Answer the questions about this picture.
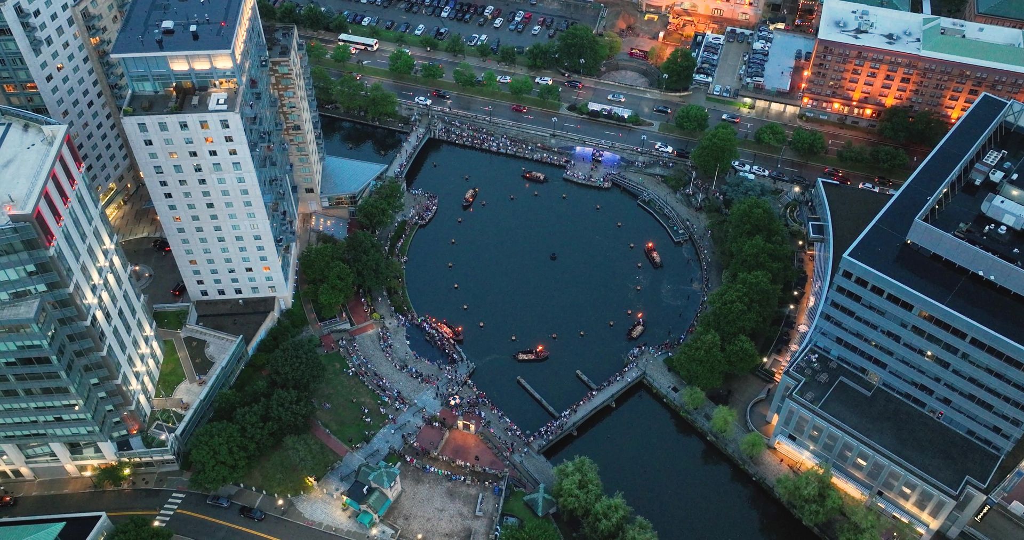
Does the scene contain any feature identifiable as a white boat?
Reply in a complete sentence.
No, there is no white boat in the image.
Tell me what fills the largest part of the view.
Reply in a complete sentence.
Most of the picture is covered by buildings.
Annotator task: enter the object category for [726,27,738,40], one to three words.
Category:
vehicle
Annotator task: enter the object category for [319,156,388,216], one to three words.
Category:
building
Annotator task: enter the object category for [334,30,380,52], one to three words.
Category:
bus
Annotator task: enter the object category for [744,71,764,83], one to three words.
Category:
vehicle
